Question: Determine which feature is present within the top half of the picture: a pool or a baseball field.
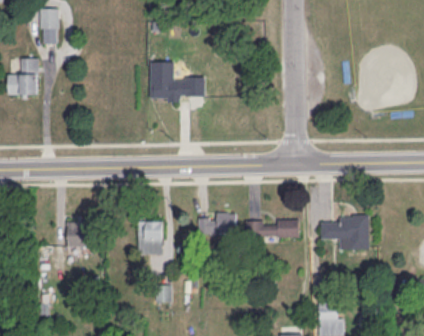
baseball field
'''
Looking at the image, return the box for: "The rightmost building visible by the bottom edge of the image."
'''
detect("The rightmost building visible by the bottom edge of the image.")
[320,304,347,336]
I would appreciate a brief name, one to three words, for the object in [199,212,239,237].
house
